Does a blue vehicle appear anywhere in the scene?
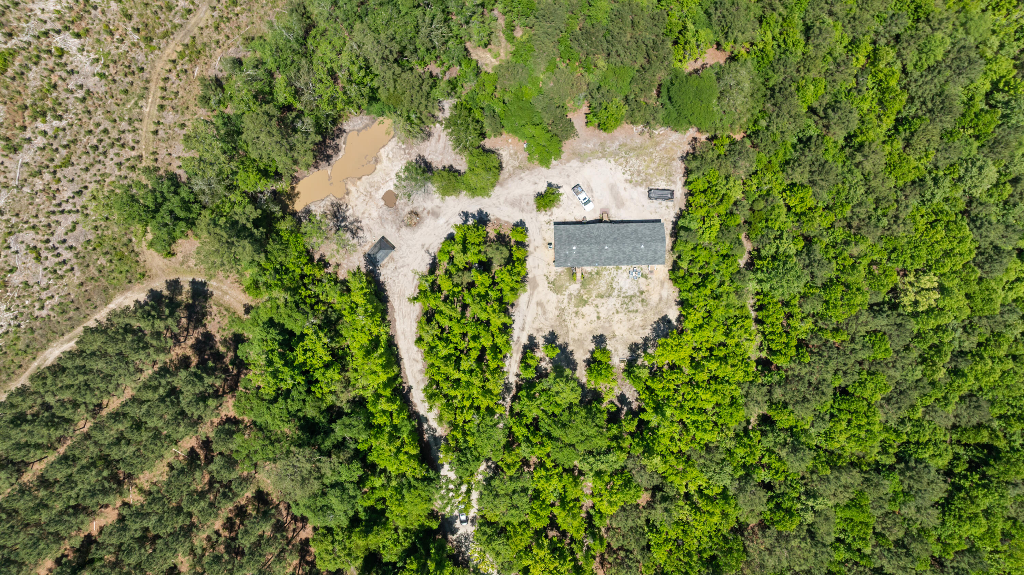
No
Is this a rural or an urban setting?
rural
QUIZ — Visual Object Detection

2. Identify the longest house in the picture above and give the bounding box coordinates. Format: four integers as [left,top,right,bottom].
[554,222,666,267]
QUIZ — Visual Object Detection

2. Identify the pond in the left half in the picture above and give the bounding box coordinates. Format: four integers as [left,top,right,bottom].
[292,117,395,211]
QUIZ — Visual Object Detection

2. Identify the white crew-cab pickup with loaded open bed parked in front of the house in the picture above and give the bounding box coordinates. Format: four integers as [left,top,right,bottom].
[570,182,595,213]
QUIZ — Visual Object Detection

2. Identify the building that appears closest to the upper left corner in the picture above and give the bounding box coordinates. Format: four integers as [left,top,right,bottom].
[366,238,395,267]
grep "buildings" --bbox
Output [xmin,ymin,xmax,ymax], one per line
[554,222,666,267]
[366,238,395,267]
